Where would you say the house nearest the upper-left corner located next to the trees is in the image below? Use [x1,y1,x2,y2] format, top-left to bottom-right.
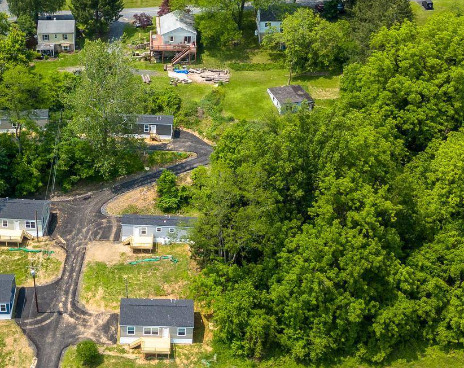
[35,15,75,58]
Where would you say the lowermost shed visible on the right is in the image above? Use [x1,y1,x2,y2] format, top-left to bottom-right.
[266,81,313,114]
